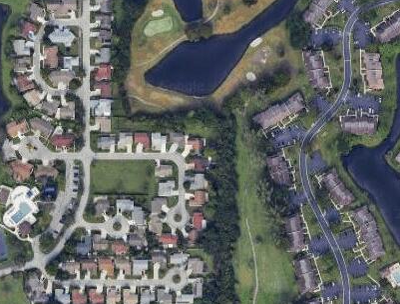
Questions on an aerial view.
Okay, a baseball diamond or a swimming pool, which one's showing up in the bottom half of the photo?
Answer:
swimming pool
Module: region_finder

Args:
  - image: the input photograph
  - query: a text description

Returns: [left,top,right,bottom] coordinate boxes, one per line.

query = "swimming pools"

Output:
[383,262,400,286]
[0,186,39,228]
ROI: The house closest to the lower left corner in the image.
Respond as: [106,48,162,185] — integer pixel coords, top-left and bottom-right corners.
[22,275,52,304]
